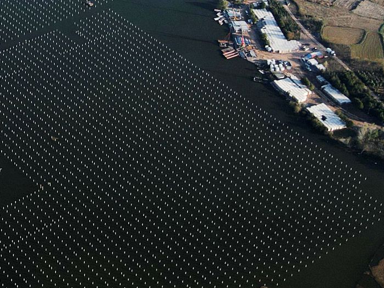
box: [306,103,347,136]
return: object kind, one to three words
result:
shed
